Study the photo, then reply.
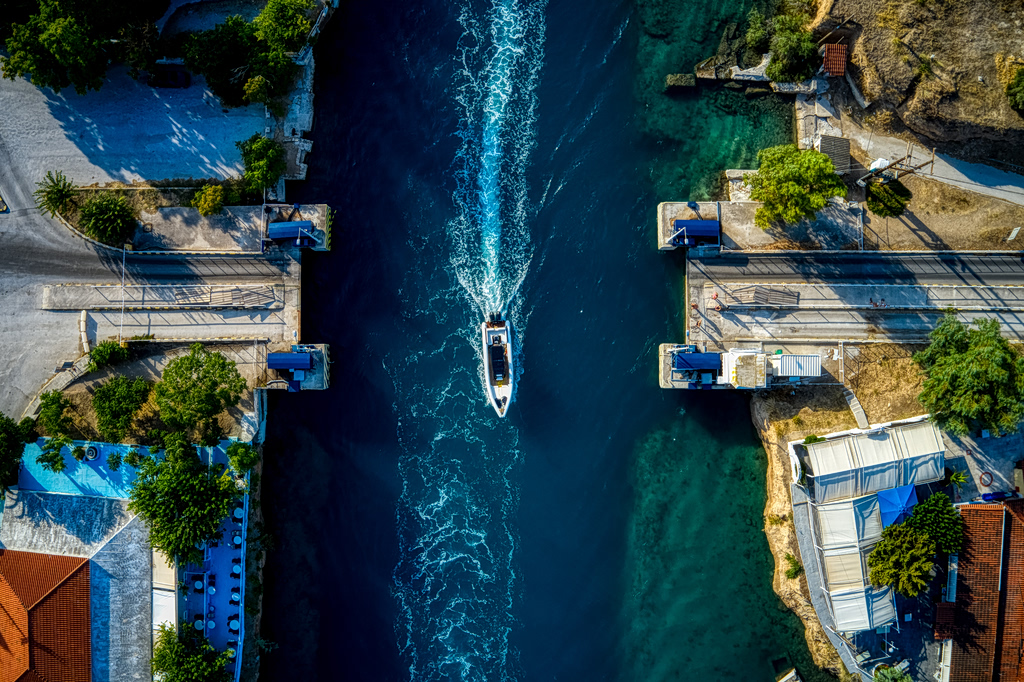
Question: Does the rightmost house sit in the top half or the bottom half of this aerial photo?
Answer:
bottom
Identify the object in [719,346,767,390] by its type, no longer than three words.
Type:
building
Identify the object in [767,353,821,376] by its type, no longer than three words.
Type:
building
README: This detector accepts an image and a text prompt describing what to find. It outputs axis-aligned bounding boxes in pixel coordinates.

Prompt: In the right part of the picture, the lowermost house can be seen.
[936,500,1024,682]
